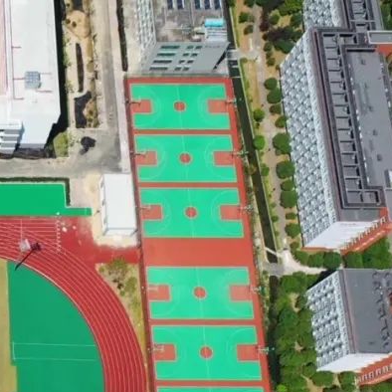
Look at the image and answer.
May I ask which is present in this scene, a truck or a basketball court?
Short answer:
basketball court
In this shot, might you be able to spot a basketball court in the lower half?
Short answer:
Yes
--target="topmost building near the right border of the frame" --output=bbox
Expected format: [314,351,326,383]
[281,0,392,251]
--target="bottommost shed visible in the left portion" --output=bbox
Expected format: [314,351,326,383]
[100,171,143,234]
